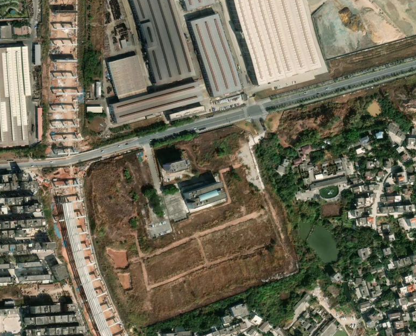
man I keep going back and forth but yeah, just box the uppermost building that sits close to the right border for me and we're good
[386,122,405,146]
